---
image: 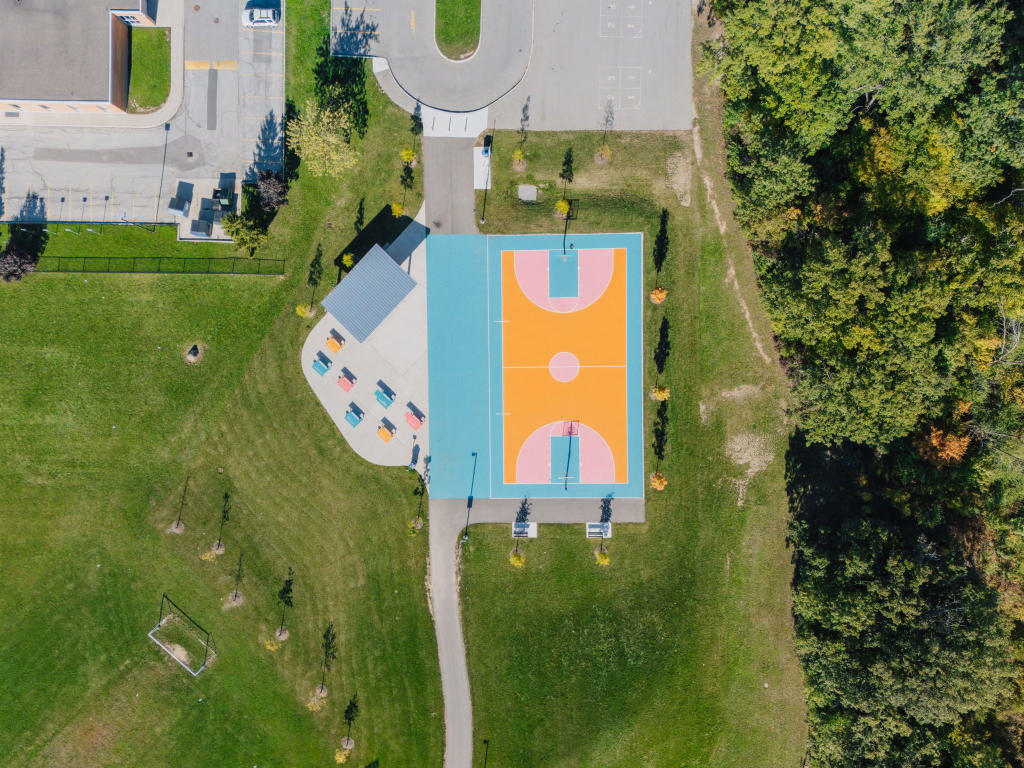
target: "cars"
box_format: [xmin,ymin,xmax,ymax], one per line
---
[241,7,279,28]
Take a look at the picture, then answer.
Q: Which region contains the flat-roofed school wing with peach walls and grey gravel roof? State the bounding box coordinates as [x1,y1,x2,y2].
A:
[0,0,156,114]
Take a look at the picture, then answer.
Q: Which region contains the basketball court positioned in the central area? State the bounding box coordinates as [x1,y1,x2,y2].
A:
[426,233,644,499]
